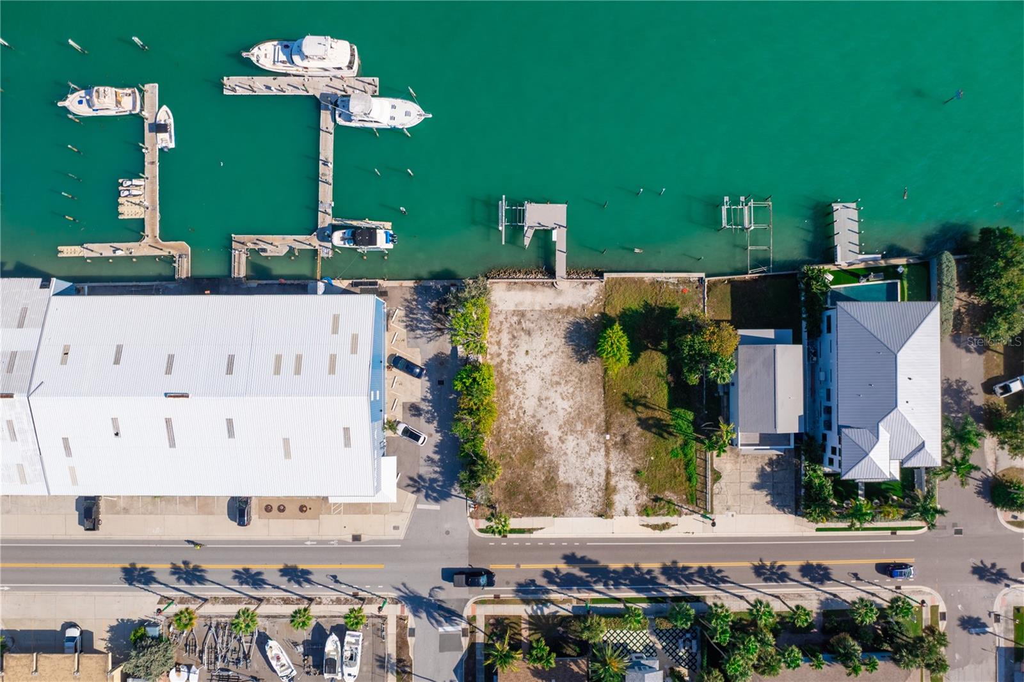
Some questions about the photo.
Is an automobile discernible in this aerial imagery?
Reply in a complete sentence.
Yes, looking at the shot, I can spot an automobile.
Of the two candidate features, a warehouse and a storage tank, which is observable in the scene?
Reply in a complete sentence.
The image shows a warehouse.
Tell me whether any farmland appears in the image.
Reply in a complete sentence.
No, there is no farmland in the image.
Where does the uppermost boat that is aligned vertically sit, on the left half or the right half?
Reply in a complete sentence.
The uppermost boat that is aligned vertically is on the left side of the image.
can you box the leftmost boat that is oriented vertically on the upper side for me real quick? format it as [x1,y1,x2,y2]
[155,106,178,156]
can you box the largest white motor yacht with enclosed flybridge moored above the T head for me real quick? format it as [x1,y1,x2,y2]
[239,35,363,78]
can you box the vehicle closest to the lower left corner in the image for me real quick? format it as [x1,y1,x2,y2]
[64,623,84,648]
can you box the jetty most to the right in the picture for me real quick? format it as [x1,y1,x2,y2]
[825,199,886,263]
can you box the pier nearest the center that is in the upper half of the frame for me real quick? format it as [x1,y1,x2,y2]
[524,200,569,279]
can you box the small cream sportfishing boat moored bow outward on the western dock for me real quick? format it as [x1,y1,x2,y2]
[60,87,143,116]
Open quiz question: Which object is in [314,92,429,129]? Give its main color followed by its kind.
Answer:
white boat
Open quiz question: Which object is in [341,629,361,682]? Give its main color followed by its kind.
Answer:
white boat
